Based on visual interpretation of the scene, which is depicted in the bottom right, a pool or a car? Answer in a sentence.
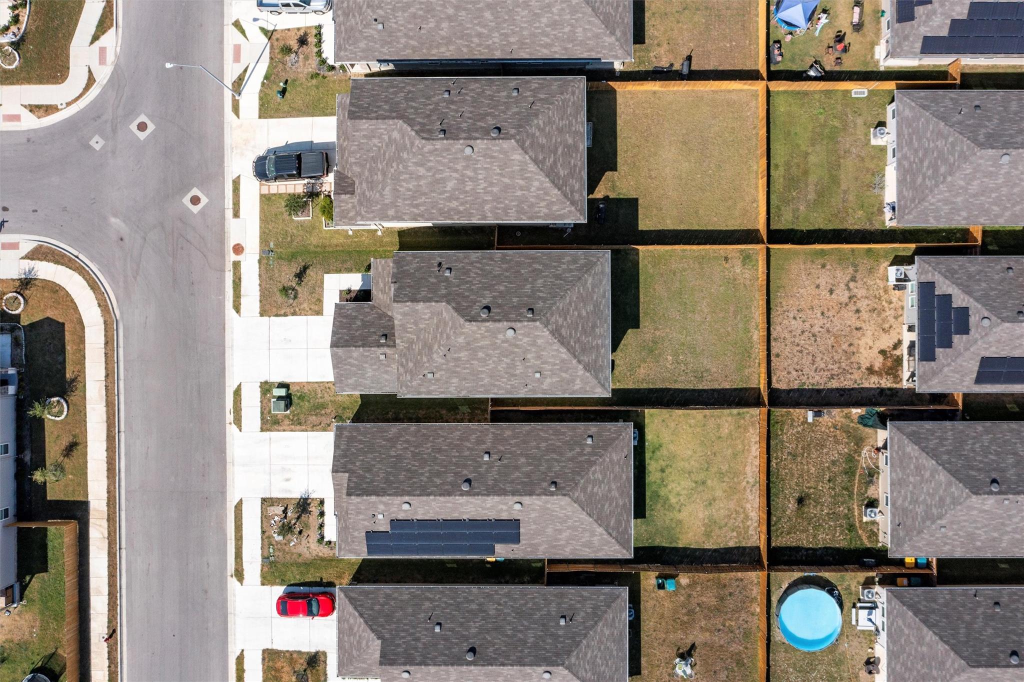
The one visible in the bottom right is a pool.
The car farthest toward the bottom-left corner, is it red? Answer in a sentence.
Yes, the car farthest toward the bottom-left corner appears red.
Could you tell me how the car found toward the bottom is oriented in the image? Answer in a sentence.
In this picture, the car found toward the bottom lies horizontally.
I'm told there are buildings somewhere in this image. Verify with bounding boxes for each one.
[874,583,1024,682]
[330,250,612,397]
[877,421,1024,557]
[902,256,1024,392]
[331,0,633,82]
[331,76,586,243]
[336,581,627,682]
[879,90,1024,236]
[870,0,1024,80]
[0,367,35,613]
[329,423,634,558]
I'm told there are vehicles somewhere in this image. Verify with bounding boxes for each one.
[249,149,332,184]
[256,0,331,13]
[276,592,336,622]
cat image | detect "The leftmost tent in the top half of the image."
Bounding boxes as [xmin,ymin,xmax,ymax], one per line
[768,0,818,42]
